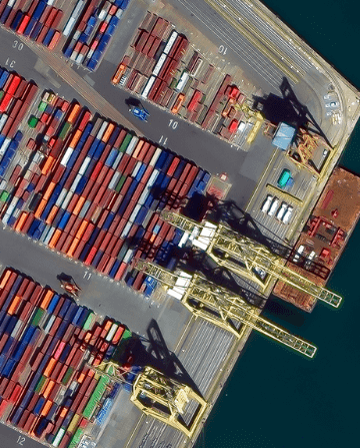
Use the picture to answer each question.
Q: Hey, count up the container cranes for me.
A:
4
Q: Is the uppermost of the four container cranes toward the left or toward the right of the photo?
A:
right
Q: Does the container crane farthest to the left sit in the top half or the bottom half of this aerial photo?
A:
bottom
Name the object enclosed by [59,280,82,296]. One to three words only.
work vehicle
